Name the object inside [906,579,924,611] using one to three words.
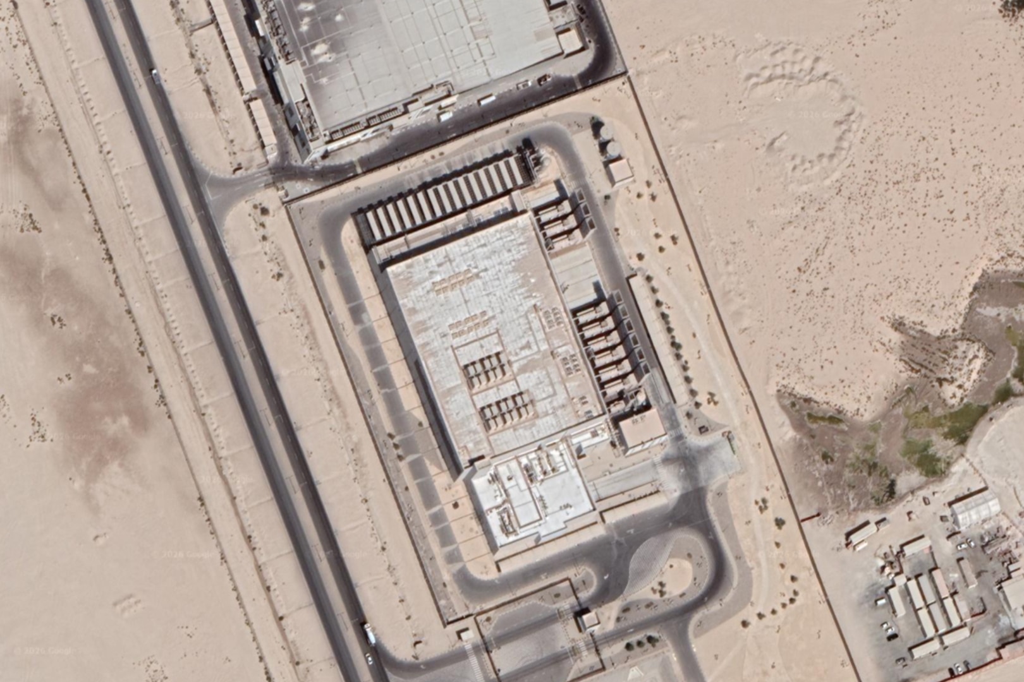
building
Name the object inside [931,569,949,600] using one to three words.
building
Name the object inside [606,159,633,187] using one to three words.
shed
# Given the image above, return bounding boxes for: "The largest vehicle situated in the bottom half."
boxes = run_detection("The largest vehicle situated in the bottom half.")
[365,624,377,643]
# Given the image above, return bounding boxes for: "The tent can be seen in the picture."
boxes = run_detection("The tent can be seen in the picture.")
[950,490,1000,531]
